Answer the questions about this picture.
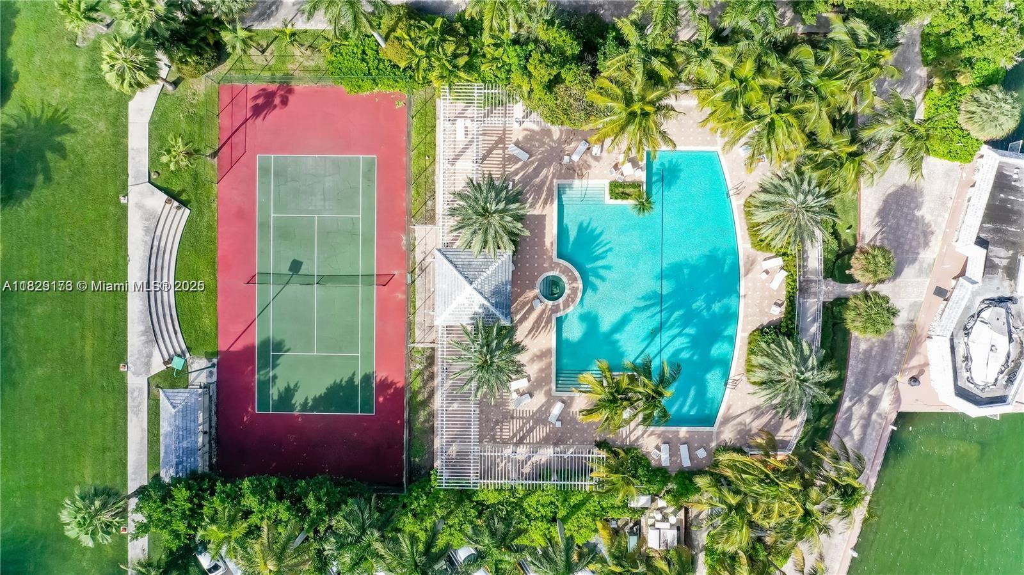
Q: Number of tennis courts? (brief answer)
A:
one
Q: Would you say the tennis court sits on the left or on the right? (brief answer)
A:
left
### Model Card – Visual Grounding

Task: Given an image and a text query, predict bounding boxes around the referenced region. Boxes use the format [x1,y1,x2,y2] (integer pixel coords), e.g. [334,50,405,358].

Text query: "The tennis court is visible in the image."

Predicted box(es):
[217,84,408,484]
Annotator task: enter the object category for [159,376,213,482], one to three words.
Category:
shed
